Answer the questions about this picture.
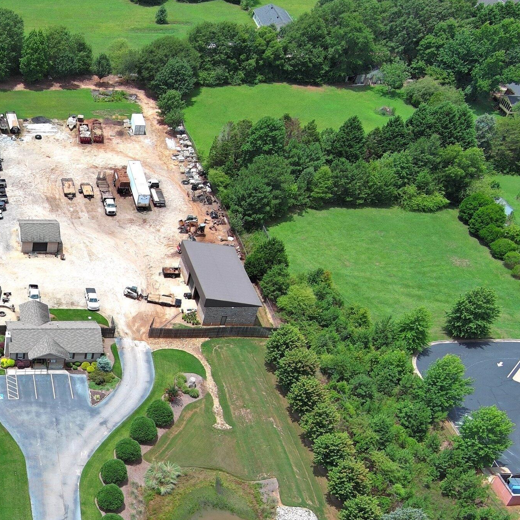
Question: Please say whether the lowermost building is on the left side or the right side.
left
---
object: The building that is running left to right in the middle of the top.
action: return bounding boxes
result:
[241,3,302,34]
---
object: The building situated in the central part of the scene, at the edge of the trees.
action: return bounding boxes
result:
[181,240,262,325]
